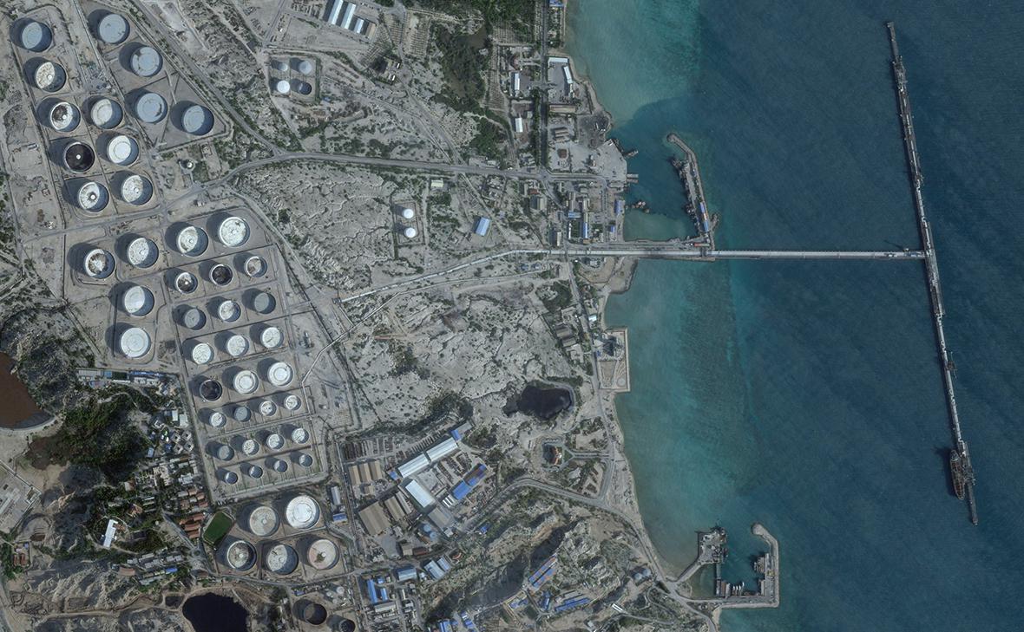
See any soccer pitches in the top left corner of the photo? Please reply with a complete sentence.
No, in the top left corner of the photo there is no soccer pitch.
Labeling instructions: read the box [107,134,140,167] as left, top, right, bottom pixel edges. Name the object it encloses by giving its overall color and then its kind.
white storage tank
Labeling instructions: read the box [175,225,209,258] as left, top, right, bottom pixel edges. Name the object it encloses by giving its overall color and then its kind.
white storage tank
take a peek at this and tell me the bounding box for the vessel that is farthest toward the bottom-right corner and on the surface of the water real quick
[951,450,965,500]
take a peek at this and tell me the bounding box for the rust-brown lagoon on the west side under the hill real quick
[0,349,53,429]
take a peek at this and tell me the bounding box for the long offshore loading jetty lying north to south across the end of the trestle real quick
[886,23,977,527]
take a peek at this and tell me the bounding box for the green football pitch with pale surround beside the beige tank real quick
[201,509,235,547]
